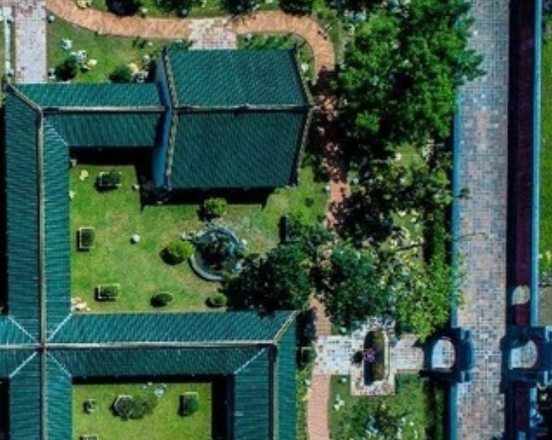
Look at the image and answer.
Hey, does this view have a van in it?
No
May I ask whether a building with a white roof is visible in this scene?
No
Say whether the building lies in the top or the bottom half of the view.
top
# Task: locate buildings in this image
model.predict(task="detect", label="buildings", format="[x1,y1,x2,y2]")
[152,36,314,194]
